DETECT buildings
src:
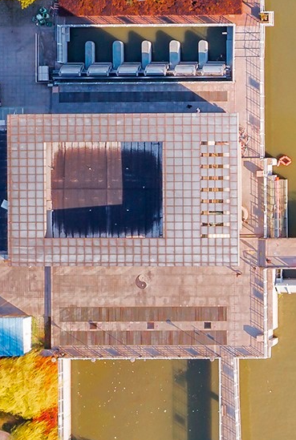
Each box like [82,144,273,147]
[7,111,241,266]
[0,316,32,356]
